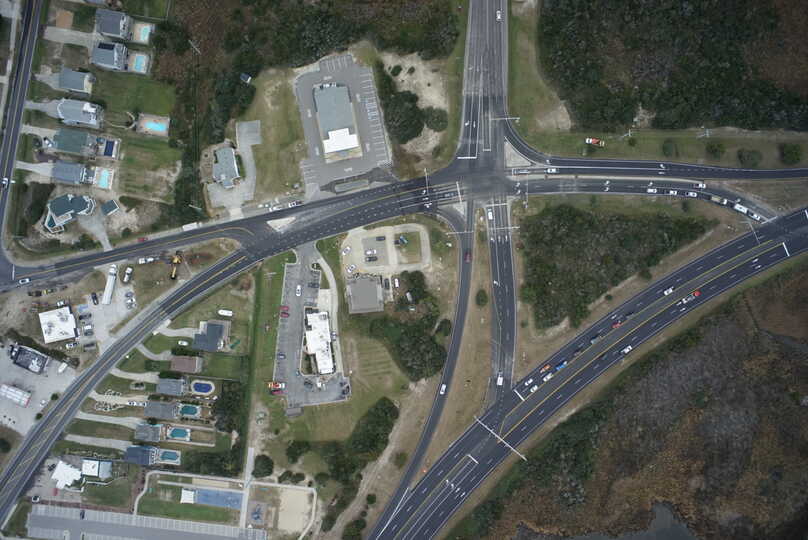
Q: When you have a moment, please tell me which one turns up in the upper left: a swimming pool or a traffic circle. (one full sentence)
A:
You can see a swimming pool in the upper left.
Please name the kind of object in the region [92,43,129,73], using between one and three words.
house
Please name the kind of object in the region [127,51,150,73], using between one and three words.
swimming pool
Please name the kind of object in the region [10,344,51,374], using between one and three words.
building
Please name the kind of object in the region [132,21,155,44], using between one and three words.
swimming pool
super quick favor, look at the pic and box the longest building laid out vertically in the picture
[305,307,335,378]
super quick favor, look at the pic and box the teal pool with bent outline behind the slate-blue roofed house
[159,448,181,465]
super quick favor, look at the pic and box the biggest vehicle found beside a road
[99,267,116,306]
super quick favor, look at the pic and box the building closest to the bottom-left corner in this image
[51,459,85,489]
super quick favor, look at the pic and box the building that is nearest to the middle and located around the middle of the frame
[349,275,383,313]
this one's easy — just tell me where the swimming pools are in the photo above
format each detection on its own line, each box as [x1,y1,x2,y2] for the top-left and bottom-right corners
[159,448,181,465]
[94,167,114,189]
[98,136,122,160]
[132,21,155,44]
[127,51,150,73]
[180,403,201,418]
[166,426,192,442]
[136,112,171,137]
[191,380,215,396]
